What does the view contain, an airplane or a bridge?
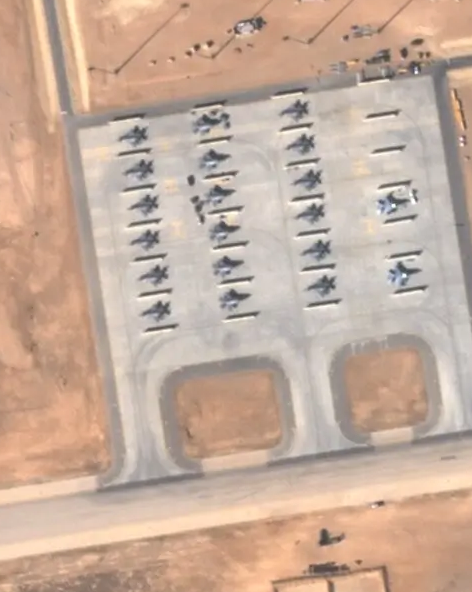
airplane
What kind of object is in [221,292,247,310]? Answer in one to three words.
airplane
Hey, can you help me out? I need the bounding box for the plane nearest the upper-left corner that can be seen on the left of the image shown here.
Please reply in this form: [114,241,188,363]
[119,128,144,146]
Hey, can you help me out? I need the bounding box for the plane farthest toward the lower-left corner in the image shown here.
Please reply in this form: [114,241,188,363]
[141,303,167,322]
